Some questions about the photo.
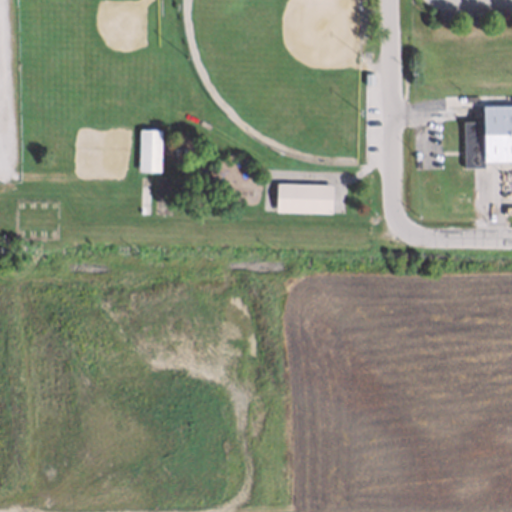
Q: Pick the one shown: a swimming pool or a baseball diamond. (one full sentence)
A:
Visible in the photo is a baseball diamond.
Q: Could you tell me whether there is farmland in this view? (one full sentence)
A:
Yes, there is farmland in the image.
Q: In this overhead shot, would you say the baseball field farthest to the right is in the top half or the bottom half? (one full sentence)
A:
The baseball field farthest to the right is in the top half of the image.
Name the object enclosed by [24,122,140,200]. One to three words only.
baseball field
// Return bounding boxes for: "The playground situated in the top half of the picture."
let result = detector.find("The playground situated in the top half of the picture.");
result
[212,164,262,206]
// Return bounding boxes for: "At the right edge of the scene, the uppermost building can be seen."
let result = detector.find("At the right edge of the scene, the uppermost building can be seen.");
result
[464,106,512,168]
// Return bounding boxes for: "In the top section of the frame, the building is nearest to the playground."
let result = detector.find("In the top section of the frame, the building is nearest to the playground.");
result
[278,183,334,214]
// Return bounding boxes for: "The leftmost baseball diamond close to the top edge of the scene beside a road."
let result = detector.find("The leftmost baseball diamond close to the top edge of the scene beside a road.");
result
[24,0,190,122]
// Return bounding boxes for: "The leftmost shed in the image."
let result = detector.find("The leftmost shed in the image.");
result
[140,129,163,172]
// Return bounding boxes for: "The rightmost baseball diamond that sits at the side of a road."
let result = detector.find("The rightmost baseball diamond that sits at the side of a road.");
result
[194,0,366,156]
